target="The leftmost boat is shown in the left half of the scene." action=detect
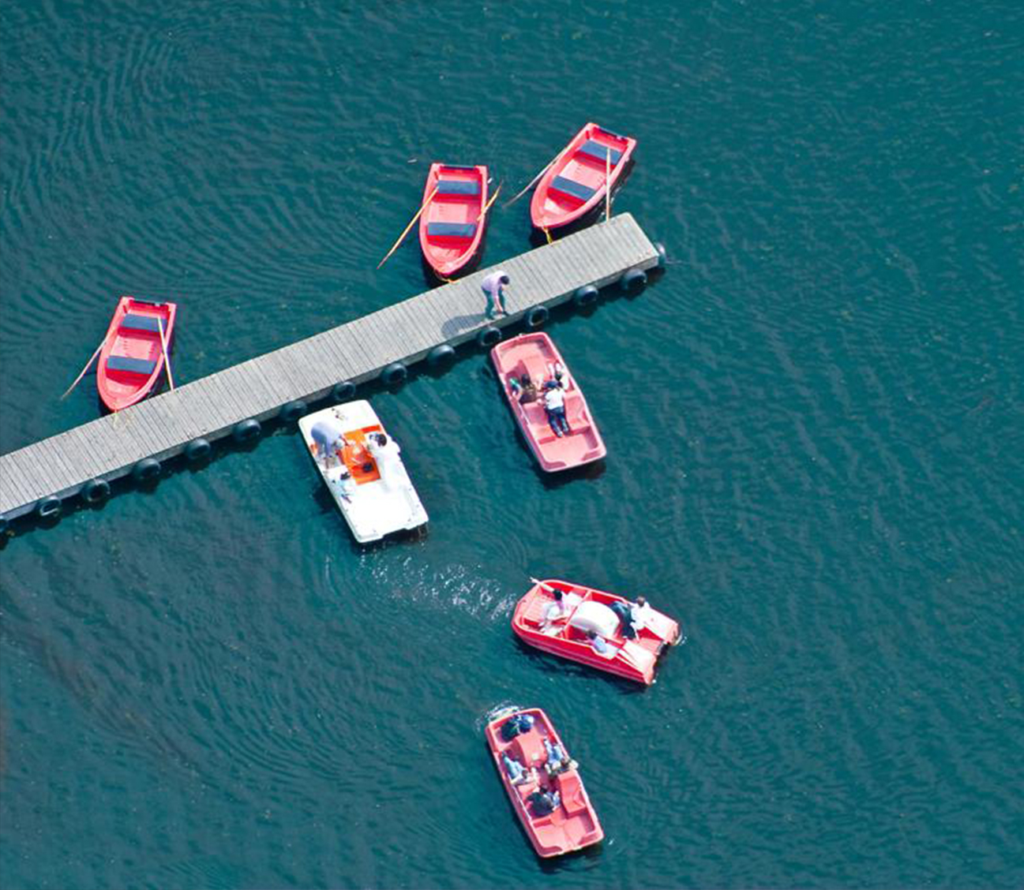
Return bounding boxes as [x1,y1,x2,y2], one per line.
[94,298,176,413]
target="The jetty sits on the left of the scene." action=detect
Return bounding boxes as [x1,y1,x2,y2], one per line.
[0,211,658,522]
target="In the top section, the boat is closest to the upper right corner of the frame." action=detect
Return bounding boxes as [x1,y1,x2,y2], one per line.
[532,126,634,233]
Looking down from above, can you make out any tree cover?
No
